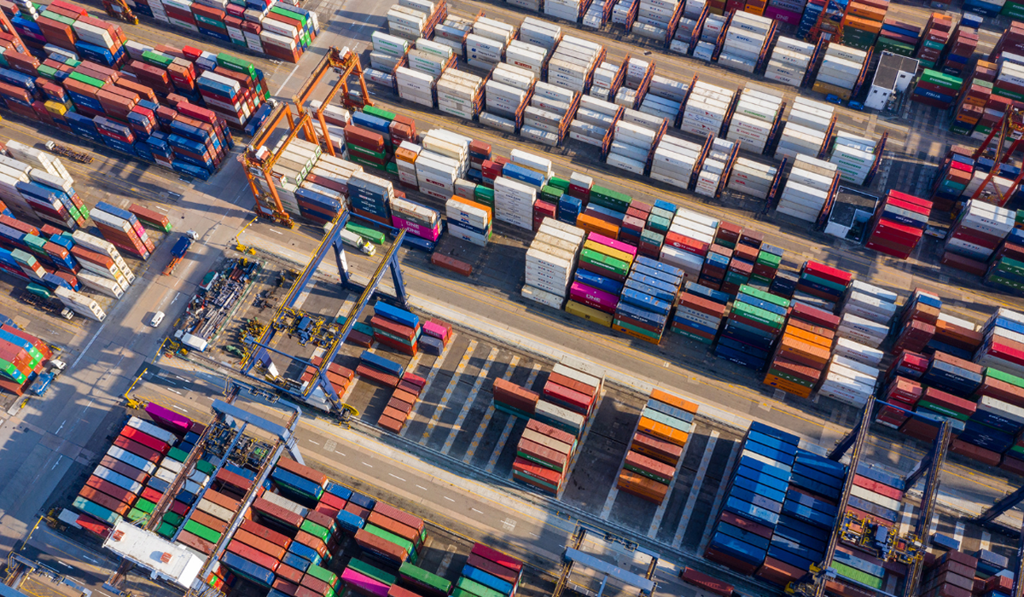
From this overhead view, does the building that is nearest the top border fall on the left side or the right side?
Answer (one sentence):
The building that is nearest the top border sits on the right side.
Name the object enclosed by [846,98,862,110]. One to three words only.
vehicle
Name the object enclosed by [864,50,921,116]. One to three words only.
building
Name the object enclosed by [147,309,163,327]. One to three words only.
vehicle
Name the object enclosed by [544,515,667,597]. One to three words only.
container crane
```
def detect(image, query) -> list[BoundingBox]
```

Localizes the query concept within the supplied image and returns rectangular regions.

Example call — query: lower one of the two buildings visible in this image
[825,184,881,245]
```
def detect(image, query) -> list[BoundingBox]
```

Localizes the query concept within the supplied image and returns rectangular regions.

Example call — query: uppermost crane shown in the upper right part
[800,0,859,47]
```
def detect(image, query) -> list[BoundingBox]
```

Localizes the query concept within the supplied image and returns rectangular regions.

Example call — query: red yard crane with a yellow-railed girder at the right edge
[943,111,1024,247]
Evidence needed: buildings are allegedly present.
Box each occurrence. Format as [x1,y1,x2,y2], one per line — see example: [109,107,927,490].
[864,50,921,116]
[825,184,881,245]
